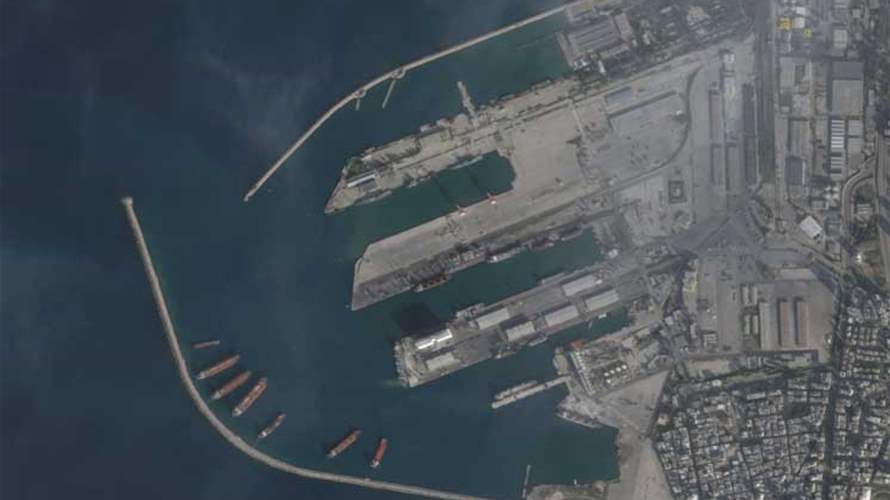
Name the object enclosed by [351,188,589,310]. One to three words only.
pier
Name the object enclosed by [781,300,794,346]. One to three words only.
building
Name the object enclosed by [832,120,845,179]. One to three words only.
building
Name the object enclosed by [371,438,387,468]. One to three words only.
ship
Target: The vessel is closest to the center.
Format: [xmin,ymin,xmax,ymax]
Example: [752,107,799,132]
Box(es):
[414,277,450,292]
